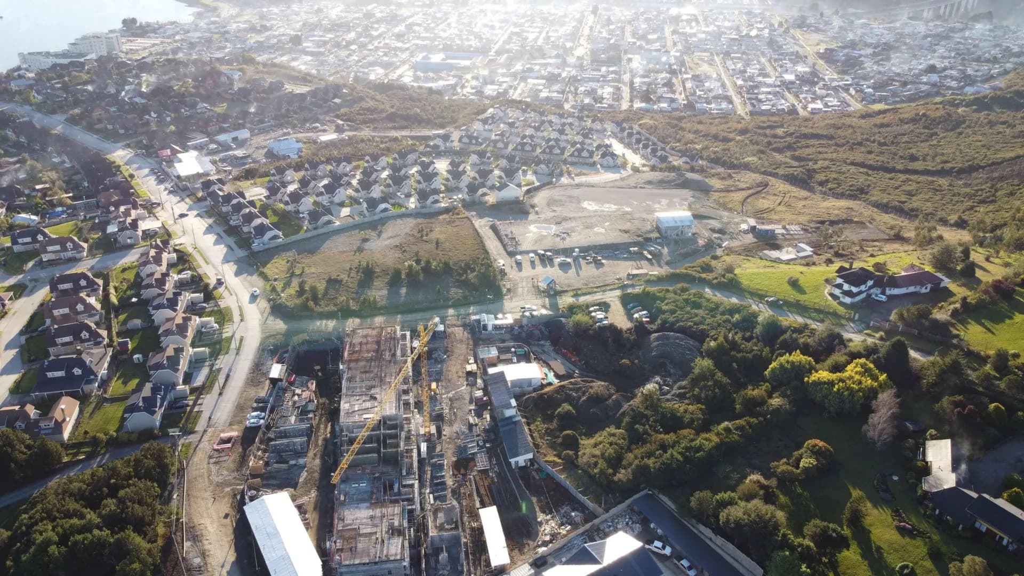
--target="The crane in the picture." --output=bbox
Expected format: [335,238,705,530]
[331,320,443,487]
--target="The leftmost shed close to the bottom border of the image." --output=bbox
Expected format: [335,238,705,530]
[243,487,340,576]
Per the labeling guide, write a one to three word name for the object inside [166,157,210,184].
building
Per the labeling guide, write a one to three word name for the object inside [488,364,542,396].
building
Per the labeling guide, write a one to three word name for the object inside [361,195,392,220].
house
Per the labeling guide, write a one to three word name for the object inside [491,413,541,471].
shed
